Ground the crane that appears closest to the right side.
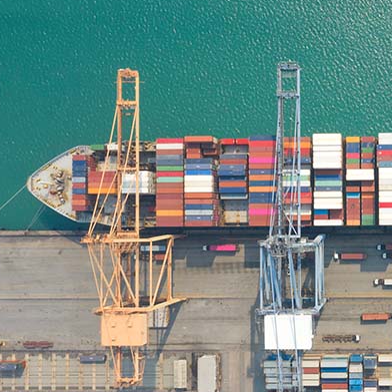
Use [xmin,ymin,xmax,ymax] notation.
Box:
[253,62,332,392]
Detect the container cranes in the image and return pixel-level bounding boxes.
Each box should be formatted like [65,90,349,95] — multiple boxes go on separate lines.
[253,62,332,392]
[80,67,196,388]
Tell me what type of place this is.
port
